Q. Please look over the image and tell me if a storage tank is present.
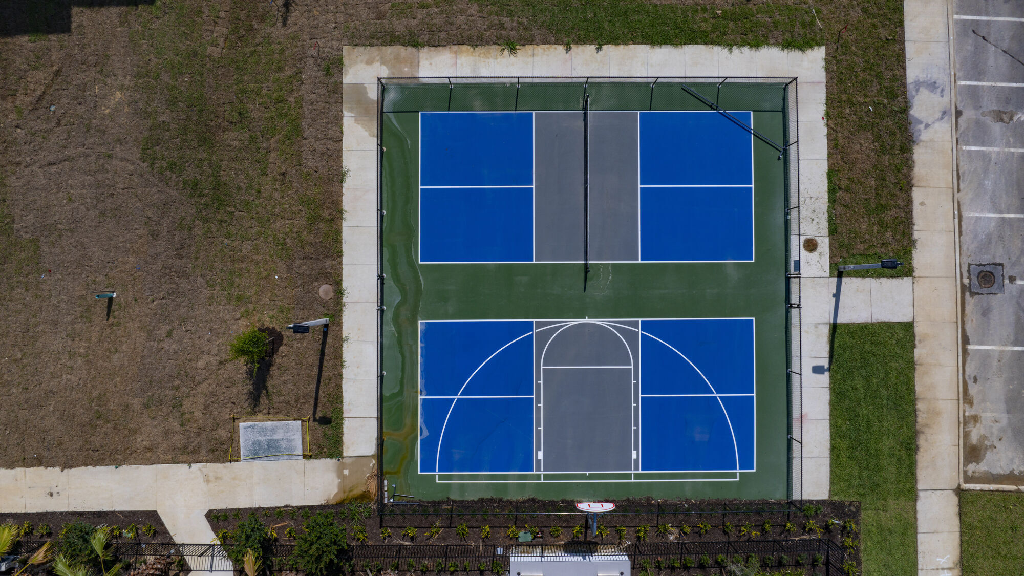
No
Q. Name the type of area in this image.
sports ground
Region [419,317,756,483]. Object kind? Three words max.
basketball court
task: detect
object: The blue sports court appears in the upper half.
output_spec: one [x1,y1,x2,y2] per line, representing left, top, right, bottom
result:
[420,111,754,263]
